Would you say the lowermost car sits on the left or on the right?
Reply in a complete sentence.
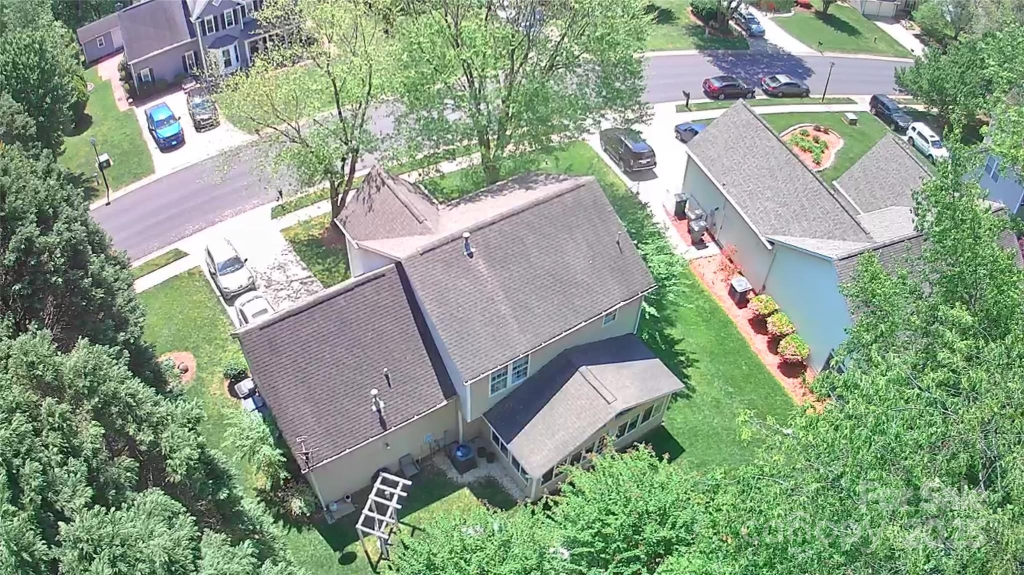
It is on the left.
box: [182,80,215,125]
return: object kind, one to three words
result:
car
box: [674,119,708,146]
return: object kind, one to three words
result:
car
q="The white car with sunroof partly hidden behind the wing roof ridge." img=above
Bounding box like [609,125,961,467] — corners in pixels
[237,291,273,324]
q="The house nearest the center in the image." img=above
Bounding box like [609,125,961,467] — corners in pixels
[228,167,683,513]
